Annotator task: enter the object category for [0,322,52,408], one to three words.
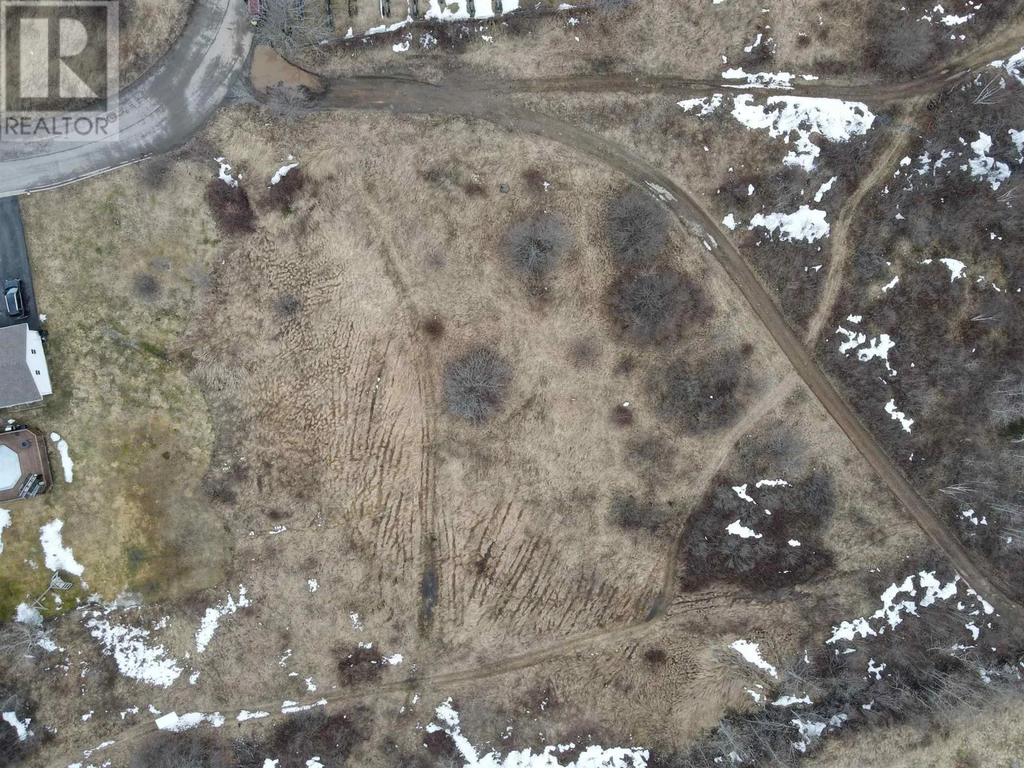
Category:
house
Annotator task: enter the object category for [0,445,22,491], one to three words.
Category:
swimming pool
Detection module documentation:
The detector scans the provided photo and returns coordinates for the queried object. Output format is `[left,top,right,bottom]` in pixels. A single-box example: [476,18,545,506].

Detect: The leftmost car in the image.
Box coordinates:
[2,279,28,320]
